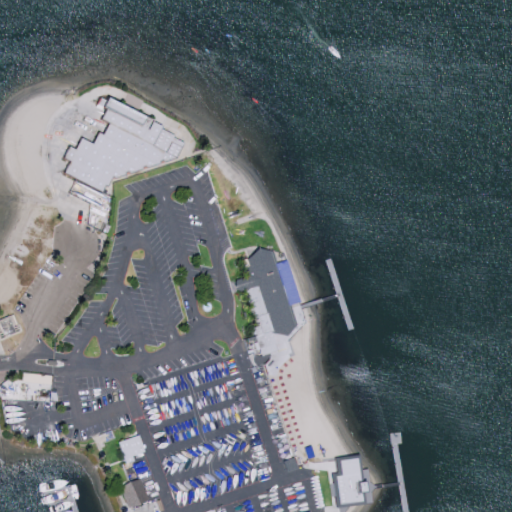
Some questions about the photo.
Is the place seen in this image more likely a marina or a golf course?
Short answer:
marina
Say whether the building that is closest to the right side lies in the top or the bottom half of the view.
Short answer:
bottom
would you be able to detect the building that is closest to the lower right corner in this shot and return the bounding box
[332,453,370,508]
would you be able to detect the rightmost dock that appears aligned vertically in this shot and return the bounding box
[390,432,410,512]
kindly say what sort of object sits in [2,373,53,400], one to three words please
building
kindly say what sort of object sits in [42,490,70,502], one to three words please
boat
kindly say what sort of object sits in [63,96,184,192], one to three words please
building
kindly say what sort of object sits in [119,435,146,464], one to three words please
house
